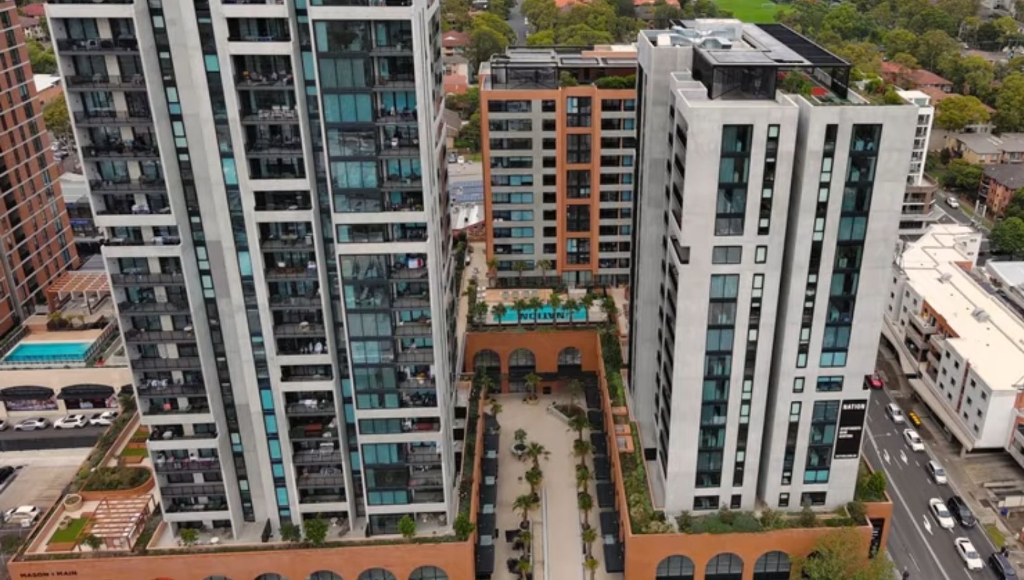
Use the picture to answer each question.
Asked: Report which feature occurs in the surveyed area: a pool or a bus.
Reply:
pool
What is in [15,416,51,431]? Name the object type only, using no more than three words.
car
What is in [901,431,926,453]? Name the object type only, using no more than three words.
car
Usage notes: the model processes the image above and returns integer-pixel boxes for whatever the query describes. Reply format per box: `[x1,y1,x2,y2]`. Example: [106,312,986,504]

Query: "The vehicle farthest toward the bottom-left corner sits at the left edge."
[1,505,41,526]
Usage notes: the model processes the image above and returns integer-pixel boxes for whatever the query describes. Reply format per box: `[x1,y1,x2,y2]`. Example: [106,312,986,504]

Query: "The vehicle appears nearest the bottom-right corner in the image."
[988,553,1020,580]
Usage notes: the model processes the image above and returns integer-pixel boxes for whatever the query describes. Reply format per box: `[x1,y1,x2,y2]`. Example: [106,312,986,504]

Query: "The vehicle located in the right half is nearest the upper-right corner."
[945,194,959,208]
